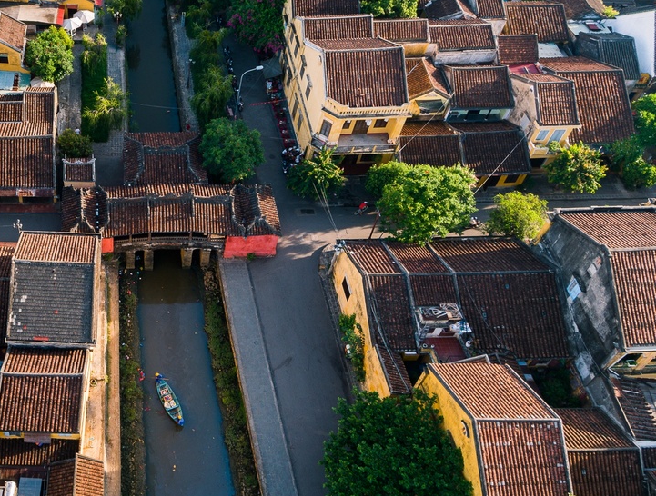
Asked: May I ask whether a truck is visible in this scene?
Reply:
No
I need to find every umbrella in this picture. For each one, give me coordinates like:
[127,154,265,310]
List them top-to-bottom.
[73,13,95,31]
[61,22,82,41]
[31,80,54,86]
